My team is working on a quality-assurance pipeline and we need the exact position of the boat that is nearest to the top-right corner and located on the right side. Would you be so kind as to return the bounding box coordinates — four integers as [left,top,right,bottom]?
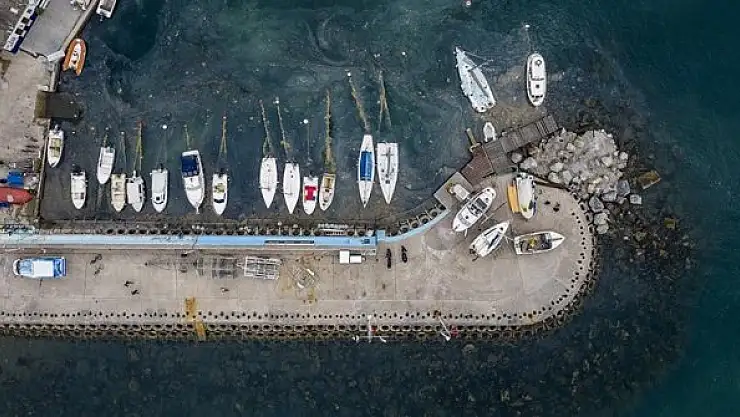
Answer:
[526,53,547,106]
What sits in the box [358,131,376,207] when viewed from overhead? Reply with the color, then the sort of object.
white boat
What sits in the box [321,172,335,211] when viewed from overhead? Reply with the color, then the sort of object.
white boat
